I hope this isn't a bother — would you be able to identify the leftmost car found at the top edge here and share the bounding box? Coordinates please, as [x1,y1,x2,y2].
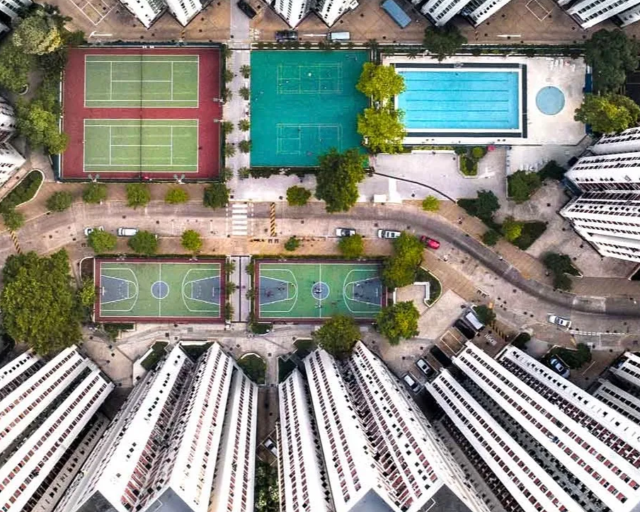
[236,0,257,18]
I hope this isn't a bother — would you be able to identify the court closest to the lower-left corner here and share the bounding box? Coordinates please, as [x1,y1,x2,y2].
[93,258,227,322]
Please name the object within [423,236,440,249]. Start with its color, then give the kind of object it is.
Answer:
red vehicle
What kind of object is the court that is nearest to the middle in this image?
basketball court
